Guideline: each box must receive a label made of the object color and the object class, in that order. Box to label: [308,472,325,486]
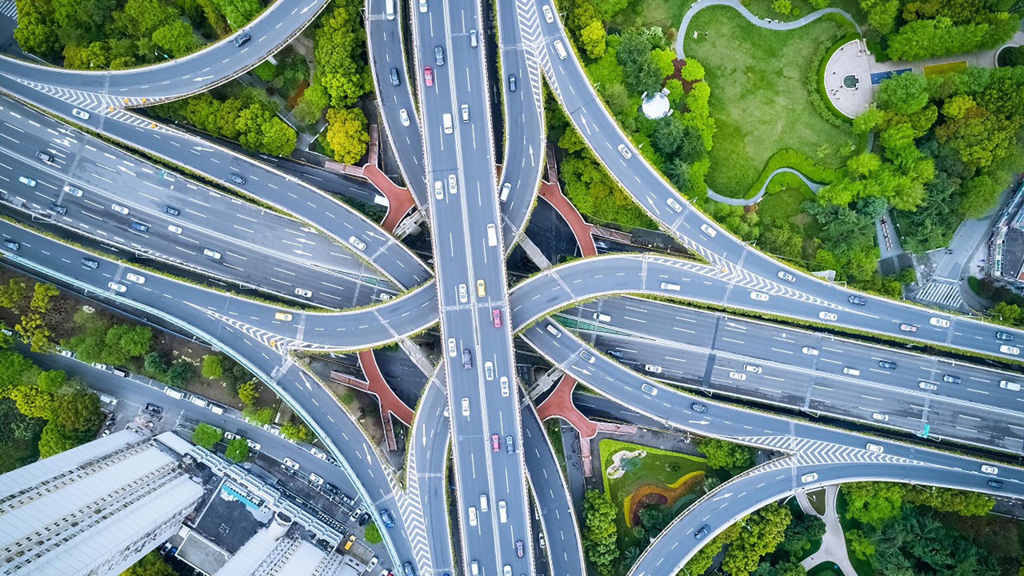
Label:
white car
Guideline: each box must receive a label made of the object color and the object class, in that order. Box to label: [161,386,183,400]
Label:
white vehicle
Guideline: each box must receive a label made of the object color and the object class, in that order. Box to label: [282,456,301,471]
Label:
white car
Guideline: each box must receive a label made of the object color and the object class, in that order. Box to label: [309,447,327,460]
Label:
white vehicle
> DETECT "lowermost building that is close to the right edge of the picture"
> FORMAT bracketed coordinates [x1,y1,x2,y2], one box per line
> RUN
[987,226,1024,283]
